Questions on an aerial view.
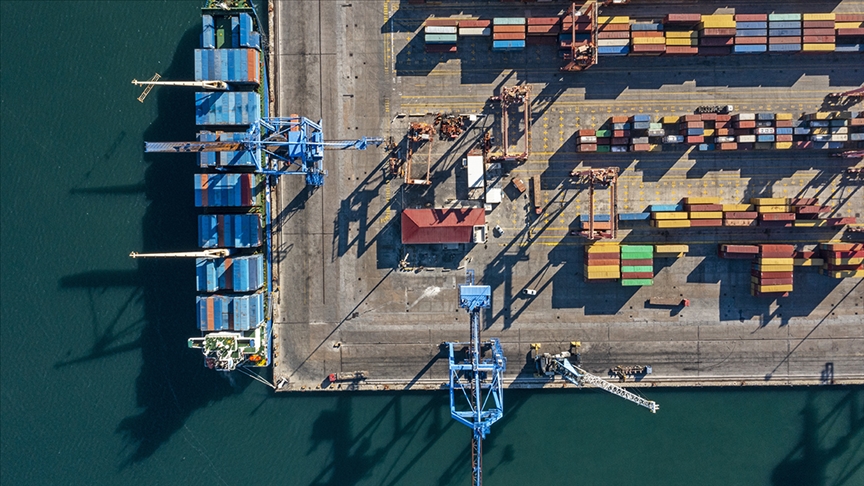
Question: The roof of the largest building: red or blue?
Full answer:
In this view, the roof of the largest building is red.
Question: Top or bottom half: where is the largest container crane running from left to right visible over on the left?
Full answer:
You can find the largest container crane running from left to right visible over on the left in the top half.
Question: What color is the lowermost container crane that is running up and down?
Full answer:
The lowermost container crane that is running up and down looks blue in the image.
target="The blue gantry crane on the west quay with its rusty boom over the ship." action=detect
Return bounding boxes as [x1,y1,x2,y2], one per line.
[146,113,386,185]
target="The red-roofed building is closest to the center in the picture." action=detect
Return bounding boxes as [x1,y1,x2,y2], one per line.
[402,208,489,243]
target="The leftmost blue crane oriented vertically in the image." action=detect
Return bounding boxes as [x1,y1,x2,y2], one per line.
[446,260,508,486]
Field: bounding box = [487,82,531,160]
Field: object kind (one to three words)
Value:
container crane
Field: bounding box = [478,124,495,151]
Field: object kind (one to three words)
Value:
work vehicle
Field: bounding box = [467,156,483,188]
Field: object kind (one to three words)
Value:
shed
